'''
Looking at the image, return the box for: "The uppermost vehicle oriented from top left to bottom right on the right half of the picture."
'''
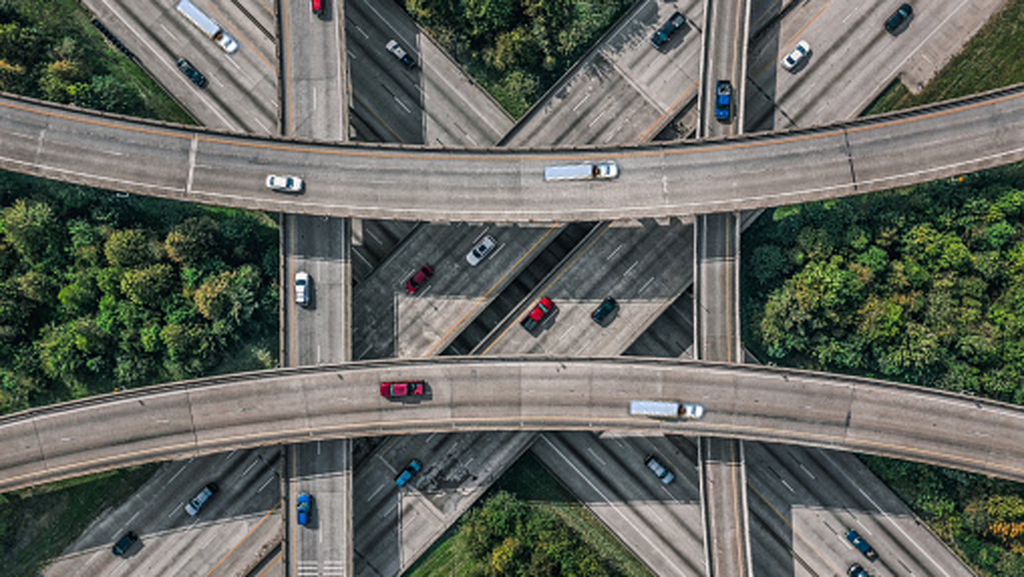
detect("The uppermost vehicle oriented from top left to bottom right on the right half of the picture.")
[643,454,675,485]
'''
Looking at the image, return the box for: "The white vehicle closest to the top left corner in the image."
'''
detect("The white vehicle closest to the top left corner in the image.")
[176,0,239,55]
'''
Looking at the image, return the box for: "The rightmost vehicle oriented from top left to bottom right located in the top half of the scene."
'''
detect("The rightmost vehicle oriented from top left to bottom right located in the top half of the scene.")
[385,37,419,71]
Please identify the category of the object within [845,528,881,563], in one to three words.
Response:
truck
